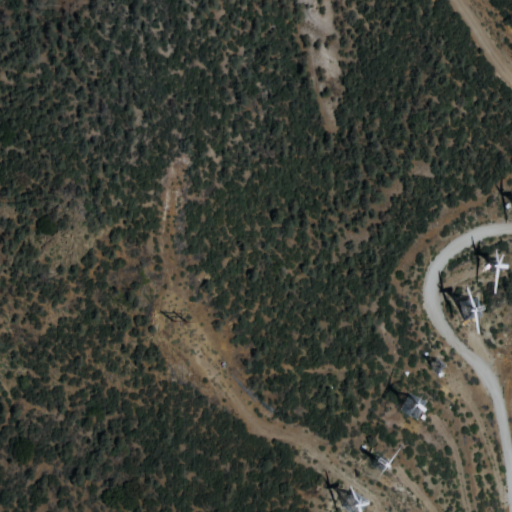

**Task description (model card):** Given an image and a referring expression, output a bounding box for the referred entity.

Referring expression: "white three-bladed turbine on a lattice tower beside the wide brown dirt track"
[343,484,372,512]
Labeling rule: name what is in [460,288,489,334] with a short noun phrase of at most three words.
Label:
wind turbine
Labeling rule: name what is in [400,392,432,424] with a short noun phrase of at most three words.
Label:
wind turbine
